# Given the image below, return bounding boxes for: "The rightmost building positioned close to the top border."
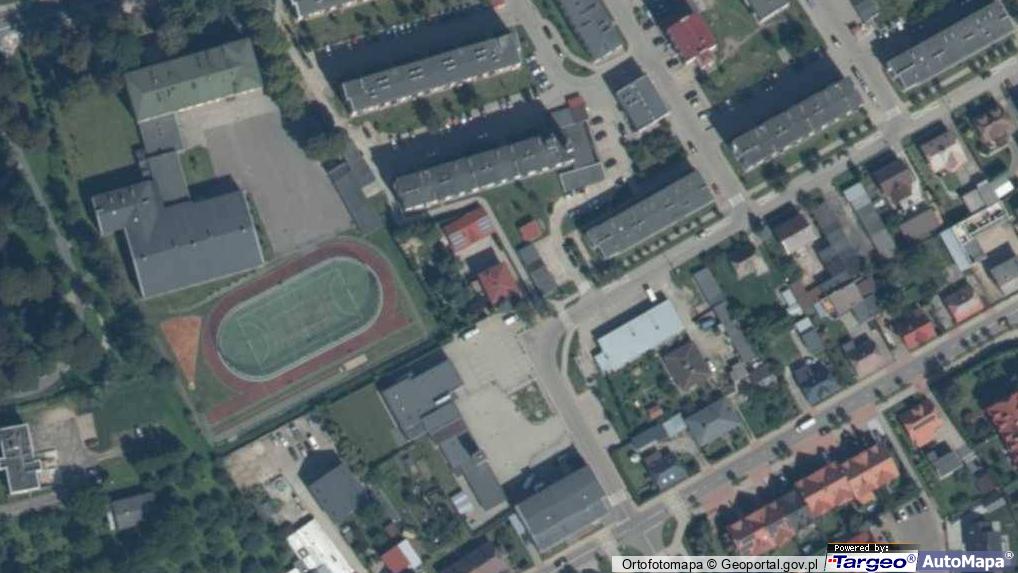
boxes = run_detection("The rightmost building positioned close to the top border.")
[885,0,1016,92]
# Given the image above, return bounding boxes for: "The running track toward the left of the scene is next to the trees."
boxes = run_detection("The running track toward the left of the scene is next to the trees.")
[200,240,424,424]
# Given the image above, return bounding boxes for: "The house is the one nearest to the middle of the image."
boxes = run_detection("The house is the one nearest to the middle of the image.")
[478,262,522,304]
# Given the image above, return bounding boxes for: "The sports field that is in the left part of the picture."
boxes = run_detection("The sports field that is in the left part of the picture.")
[218,258,382,378]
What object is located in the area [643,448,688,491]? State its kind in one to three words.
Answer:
house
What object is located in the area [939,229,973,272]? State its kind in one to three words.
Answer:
building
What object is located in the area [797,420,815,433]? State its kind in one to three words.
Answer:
vehicle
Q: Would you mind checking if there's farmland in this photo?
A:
No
